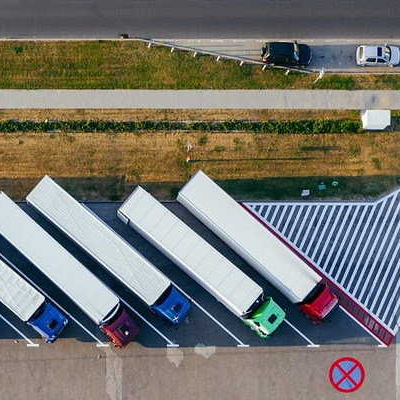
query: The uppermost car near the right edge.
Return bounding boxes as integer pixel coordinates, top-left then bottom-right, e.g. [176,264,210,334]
[354,41,400,69]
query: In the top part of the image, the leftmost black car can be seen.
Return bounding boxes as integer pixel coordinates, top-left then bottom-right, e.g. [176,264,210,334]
[260,40,312,69]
